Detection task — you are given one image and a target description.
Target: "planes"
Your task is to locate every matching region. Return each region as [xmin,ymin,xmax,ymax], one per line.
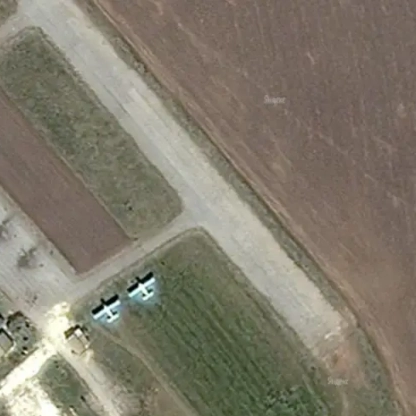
[129,280,156,303]
[94,301,120,324]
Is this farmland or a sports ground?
farmland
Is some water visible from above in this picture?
No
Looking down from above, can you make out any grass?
Yes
